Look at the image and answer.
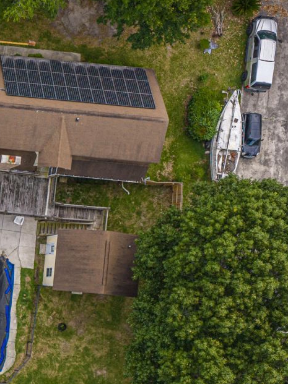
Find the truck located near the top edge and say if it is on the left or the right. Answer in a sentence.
The truck located near the top edge is on the right side of the image.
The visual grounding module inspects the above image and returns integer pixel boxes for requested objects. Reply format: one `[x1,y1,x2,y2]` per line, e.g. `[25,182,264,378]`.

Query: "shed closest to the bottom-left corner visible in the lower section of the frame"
[42,227,142,298]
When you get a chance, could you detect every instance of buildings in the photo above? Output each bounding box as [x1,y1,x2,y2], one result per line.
[0,55,167,201]
[42,227,142,298]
